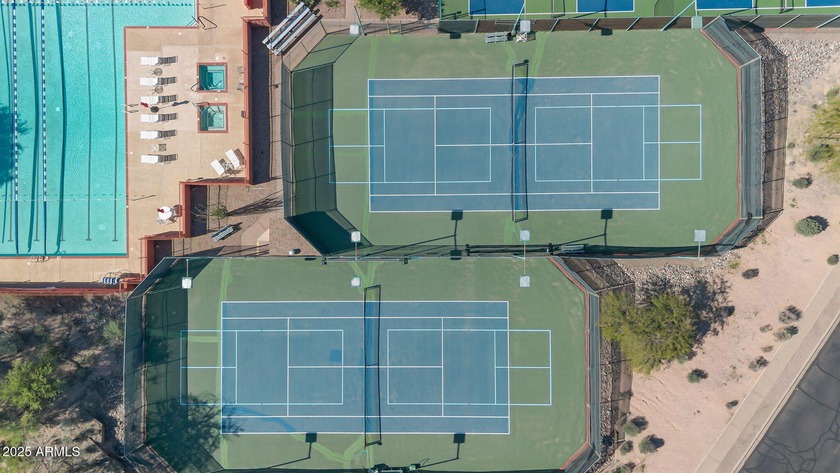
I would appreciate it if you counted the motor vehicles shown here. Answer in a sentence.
The count of motor vehicles is 0.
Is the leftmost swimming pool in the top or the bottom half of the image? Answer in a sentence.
Seen from above, the leftmost swimming pool lies in the top half of the view.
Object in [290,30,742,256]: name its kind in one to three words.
tennis court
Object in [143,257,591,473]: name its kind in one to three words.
tennis court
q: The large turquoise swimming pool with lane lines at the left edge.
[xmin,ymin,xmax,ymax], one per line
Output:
[0,0,199,265]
